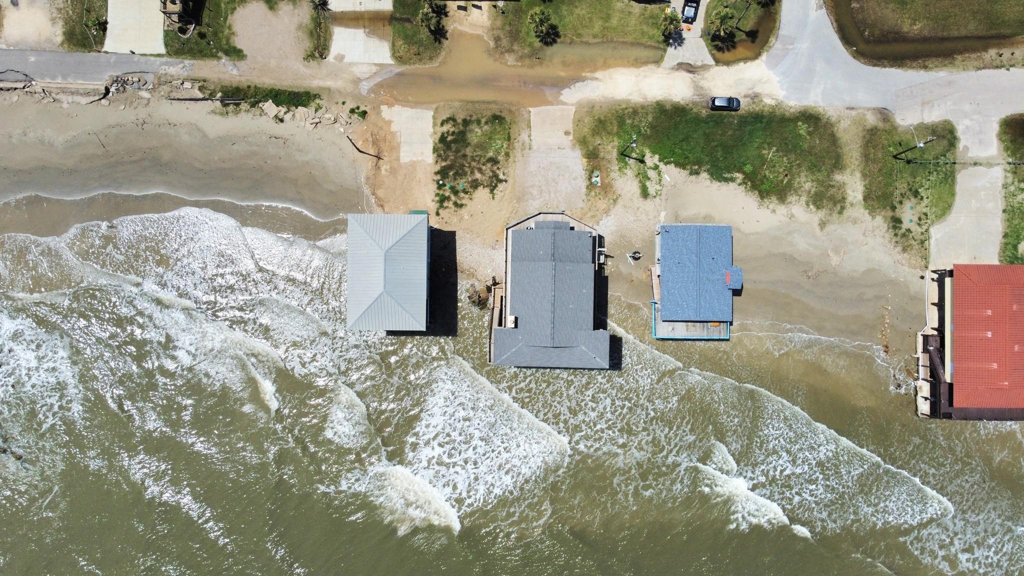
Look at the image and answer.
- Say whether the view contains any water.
Yes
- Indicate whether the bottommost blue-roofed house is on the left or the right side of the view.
right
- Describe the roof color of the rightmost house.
red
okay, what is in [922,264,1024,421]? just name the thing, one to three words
house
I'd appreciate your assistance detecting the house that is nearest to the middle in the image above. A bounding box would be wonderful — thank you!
[488,213,610,369]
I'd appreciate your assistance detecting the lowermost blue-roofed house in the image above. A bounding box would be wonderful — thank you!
[648,223,742,340]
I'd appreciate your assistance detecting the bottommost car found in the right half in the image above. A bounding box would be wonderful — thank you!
[711,95,742,110]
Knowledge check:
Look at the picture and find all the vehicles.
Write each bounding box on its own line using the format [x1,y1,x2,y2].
[683,0,699,22]
[711,95,742,110]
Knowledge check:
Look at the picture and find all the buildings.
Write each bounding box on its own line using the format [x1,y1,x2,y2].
[922,264,1024,421]
[648,223,742,340]
[157,0,194,23]
[346,210,432,332]
[488,213,610,369]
